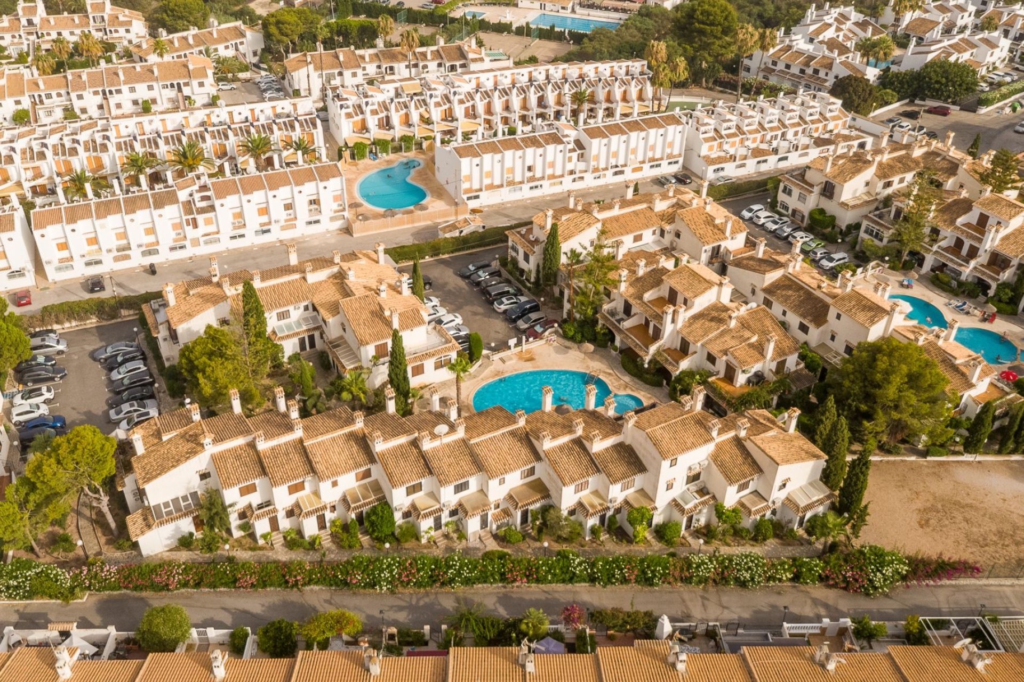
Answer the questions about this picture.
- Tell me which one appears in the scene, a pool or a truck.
pool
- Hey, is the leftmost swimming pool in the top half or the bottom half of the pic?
top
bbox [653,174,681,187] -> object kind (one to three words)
vehicle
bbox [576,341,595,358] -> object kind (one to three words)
umbrella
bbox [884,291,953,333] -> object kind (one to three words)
swimming pool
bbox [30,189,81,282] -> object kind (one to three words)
house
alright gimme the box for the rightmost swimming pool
[949,323,1024,368]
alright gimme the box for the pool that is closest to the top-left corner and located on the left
[356,157,430,209]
